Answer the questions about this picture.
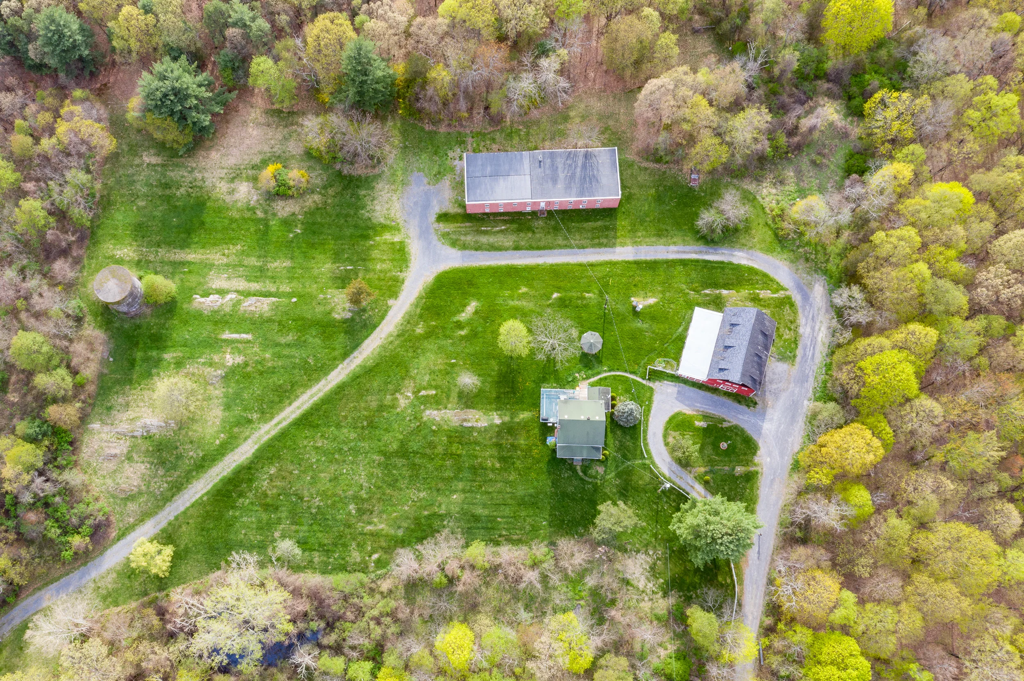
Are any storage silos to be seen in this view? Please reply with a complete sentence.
Yes, there's a storage silo here.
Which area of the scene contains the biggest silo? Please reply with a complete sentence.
You can find the biggest silo in the left area of the picture.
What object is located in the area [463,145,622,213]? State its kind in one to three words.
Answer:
building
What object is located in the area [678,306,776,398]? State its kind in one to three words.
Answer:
barn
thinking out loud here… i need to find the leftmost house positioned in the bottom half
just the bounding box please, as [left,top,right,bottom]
[554,385,612,466]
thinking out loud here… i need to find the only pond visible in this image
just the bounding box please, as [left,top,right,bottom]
[209,621,328,676]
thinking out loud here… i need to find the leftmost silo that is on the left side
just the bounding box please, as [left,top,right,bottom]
[93,266,152,317]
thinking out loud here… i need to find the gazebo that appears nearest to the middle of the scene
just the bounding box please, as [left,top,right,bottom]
[580,333,603,358]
